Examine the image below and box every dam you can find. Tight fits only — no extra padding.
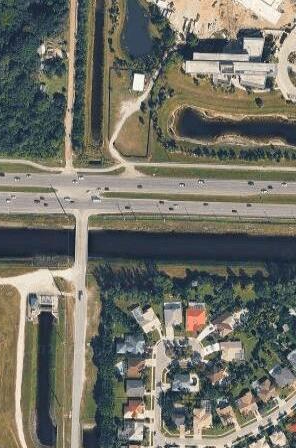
[27,293,58,321]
